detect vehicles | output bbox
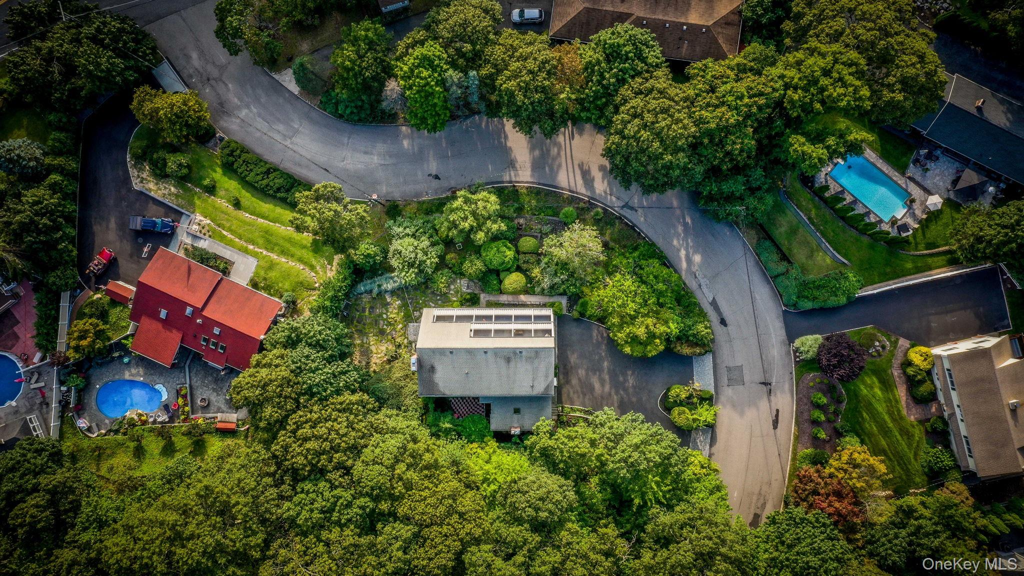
[124,214,176,235]
[511,5,546,23]
[80,243,117,282]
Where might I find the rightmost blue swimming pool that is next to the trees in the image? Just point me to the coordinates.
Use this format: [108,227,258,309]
[826,146,916,227]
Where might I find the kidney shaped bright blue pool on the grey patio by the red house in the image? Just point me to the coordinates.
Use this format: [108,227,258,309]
[95,377,168,420]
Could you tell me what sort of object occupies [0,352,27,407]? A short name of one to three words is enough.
swimming pool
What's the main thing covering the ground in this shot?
trees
